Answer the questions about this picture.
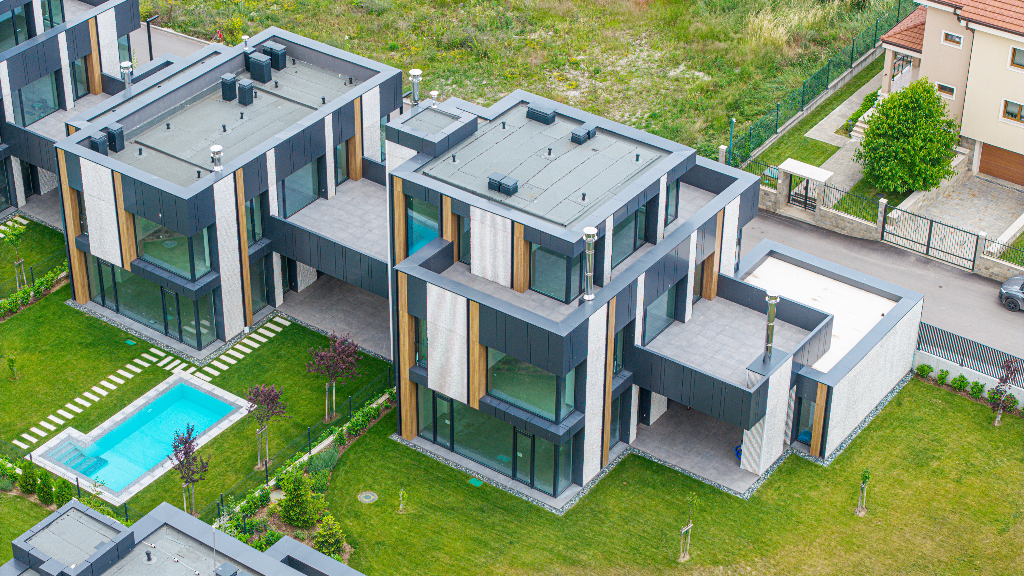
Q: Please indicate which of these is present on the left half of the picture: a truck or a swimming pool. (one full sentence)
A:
The feature located on the left half of the picture is a swimming pool.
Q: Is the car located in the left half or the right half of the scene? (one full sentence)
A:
It is on the right.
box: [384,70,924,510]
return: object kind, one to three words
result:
house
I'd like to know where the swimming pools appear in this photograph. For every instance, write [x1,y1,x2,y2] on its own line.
[25,369,254,506]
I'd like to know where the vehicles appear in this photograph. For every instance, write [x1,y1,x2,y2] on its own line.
[993,272,1024,311]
